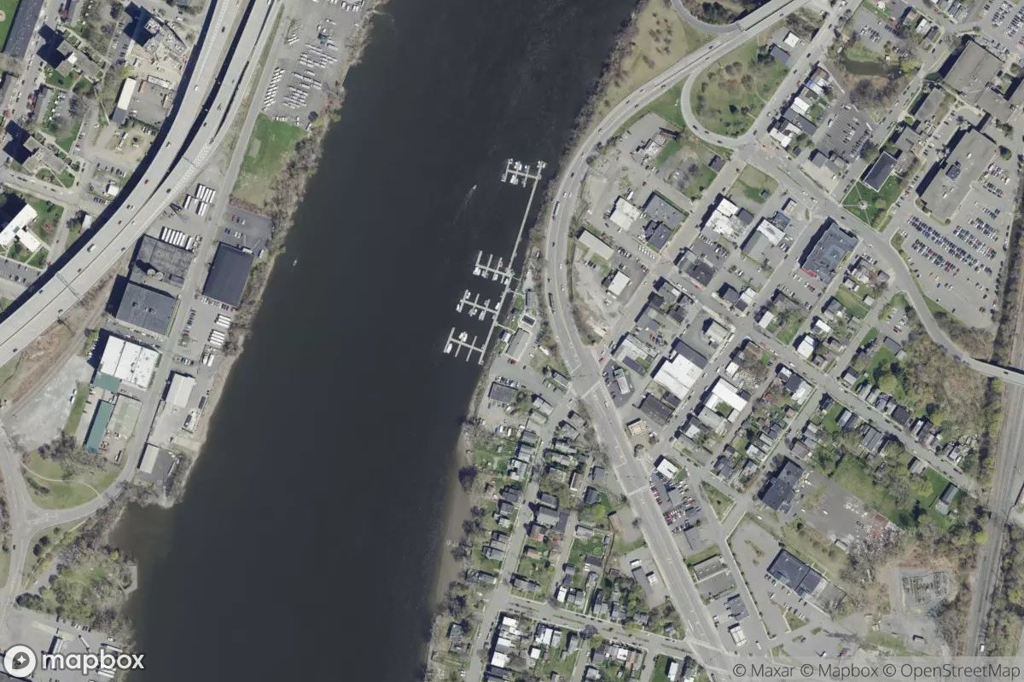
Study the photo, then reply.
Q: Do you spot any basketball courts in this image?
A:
No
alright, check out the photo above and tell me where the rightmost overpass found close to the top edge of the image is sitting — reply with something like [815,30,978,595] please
[664,0,821,81]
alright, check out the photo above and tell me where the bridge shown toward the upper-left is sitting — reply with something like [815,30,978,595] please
[0,0,246,350]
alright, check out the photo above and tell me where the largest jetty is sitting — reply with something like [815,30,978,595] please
[480,168,541,359]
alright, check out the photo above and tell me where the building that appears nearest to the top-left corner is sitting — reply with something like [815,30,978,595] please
[4,0,43,55]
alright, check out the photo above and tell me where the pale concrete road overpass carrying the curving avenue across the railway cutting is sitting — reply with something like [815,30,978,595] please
[938,334,1024,382]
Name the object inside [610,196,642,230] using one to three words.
building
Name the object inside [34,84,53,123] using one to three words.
house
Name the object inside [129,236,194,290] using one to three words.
building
